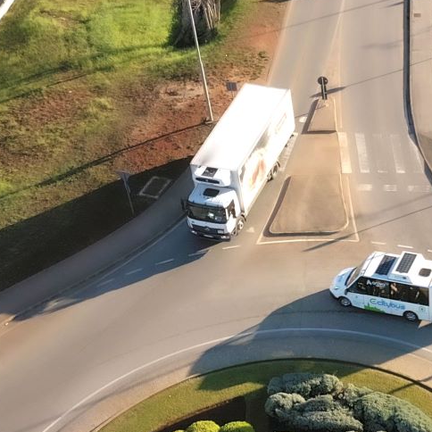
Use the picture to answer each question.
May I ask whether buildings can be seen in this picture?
No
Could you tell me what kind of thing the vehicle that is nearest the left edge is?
truck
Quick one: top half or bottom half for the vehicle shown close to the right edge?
bottom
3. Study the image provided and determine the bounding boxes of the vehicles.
[327,248,432,322]
[179,84,294,244]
